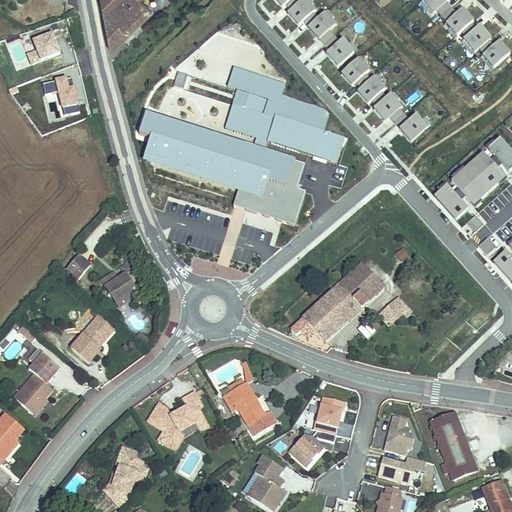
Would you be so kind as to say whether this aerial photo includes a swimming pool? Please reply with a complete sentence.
Yes, a swimming pool appears in the view.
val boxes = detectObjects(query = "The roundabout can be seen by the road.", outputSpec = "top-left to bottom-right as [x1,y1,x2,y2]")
[179,274,252,344]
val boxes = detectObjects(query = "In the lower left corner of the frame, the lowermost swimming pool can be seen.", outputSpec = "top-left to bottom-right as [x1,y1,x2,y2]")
[64,472,88,494]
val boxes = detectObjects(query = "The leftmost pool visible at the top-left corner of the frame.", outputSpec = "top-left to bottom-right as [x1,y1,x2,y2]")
[10,43,26,63]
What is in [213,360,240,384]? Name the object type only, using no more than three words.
swimming pool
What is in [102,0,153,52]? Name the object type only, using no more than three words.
barn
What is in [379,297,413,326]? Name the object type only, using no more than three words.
shed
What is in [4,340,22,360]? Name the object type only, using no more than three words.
swimming pool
